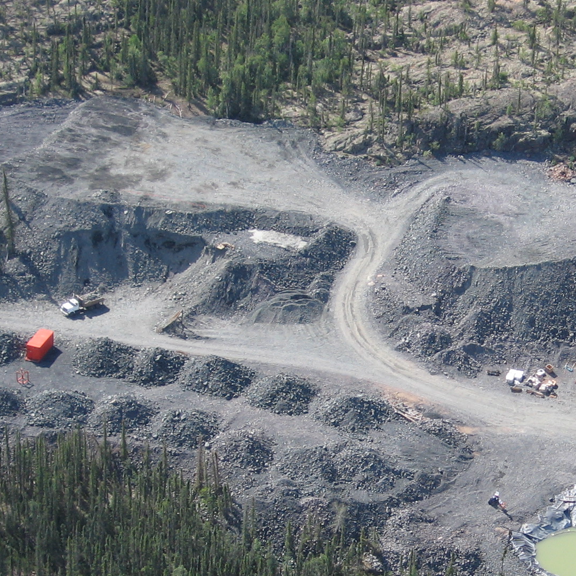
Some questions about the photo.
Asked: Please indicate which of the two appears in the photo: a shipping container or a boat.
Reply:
shipping container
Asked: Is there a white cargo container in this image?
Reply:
No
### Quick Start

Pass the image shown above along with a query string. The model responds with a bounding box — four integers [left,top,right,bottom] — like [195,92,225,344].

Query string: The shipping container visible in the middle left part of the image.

[25,328,52,363]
